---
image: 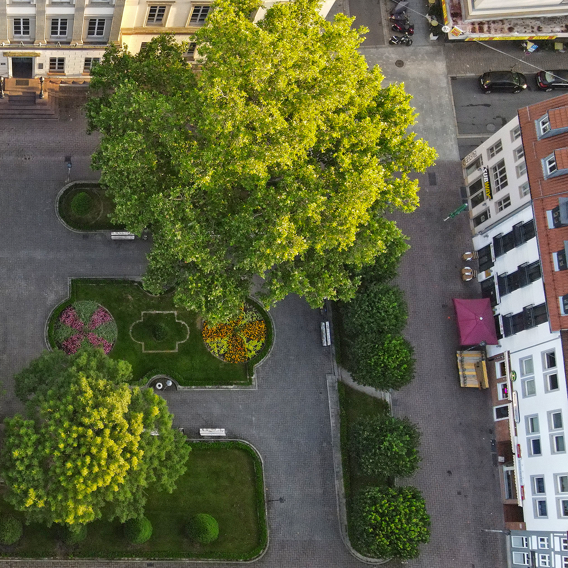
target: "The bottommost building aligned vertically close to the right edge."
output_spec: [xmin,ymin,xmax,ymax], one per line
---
[483,330,568,529]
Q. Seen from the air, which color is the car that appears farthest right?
black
